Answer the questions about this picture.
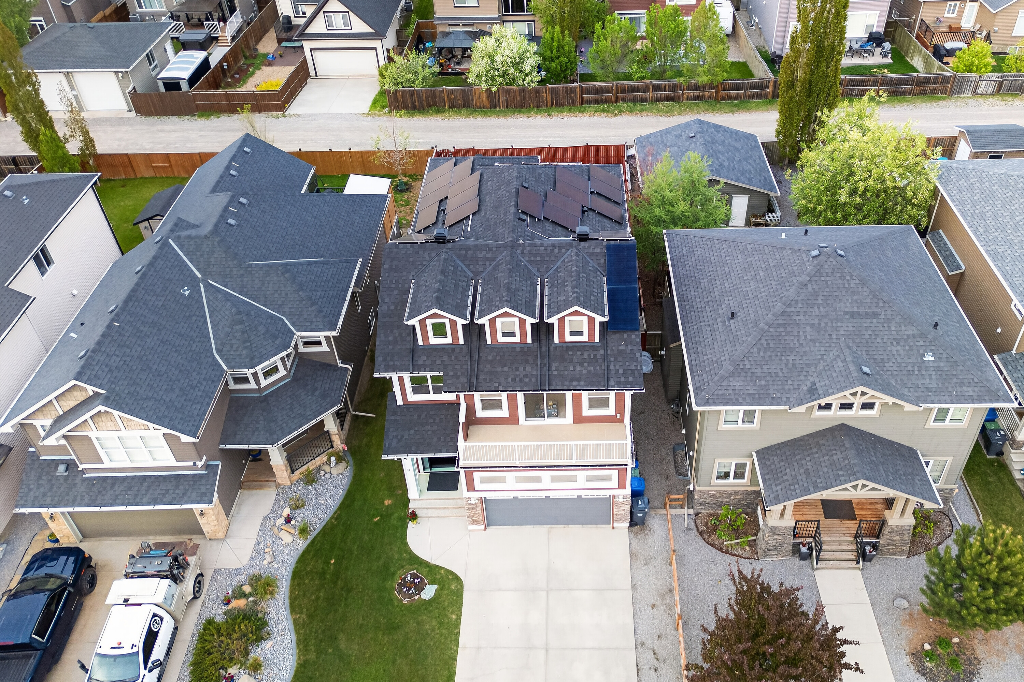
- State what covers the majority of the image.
buildings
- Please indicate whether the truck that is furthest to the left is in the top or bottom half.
bottom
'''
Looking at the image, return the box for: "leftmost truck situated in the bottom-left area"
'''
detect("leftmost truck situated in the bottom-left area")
[0,549,97,682]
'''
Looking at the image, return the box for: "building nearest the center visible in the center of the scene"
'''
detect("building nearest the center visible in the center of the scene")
[374,156,644,531]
